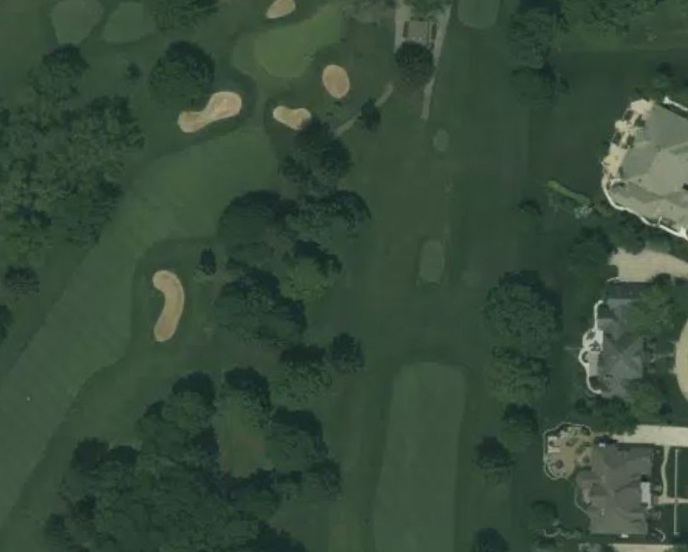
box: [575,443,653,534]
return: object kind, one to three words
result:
house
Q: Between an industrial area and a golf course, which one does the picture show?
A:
golf course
